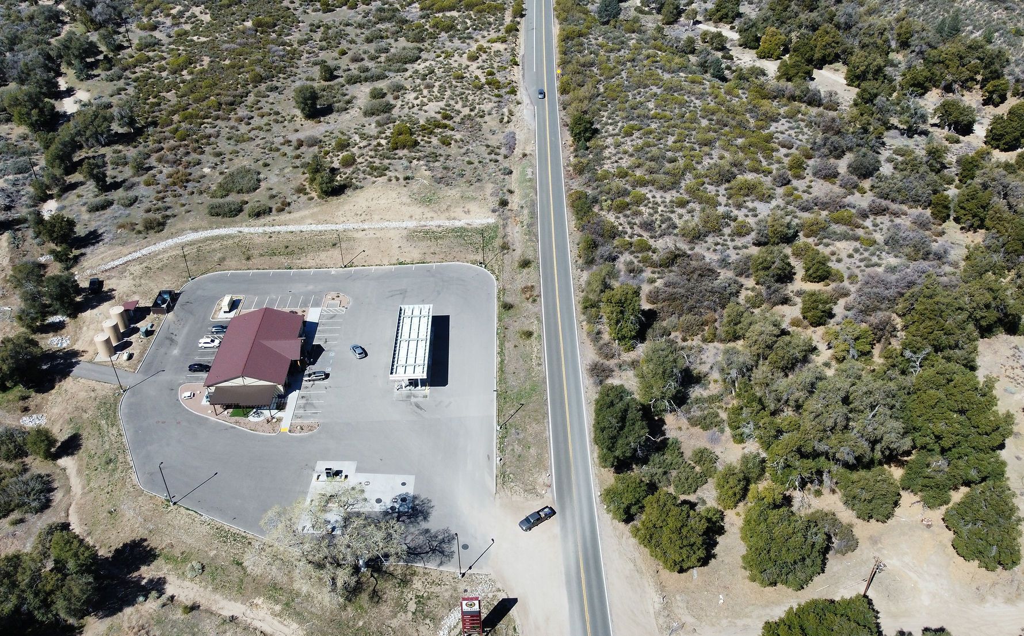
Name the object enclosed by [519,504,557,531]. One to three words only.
truck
